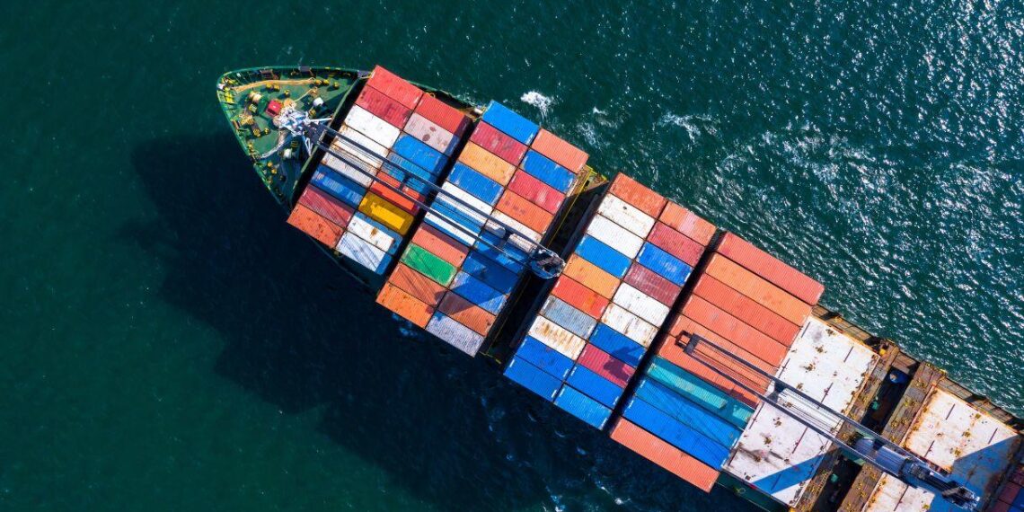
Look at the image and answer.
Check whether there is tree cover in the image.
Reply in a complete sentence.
No, the picture contains no tree cover.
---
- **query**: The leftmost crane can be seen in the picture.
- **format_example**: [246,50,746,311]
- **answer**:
[302,120,565,278]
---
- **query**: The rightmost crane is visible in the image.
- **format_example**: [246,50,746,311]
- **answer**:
[673,330,975,510]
